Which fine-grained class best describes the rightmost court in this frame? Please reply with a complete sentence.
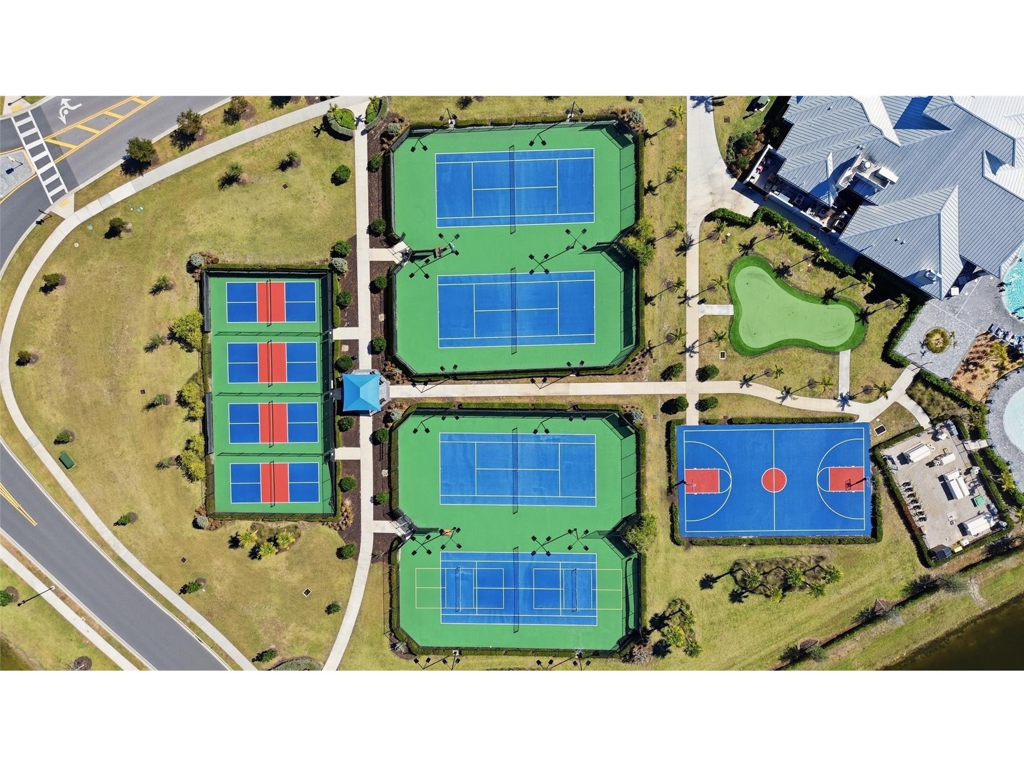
The rightmost court appears to be a basketball court.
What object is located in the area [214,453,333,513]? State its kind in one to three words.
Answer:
sports court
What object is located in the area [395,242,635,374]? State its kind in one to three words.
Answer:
tennis court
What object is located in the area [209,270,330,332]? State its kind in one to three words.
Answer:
sports court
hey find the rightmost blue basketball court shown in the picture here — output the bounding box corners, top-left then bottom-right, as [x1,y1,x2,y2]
[676,423,871,537]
